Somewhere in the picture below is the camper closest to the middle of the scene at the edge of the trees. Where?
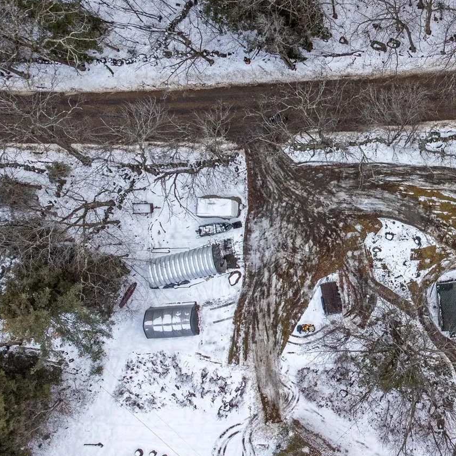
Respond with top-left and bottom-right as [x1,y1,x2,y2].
[189,192,245,222]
